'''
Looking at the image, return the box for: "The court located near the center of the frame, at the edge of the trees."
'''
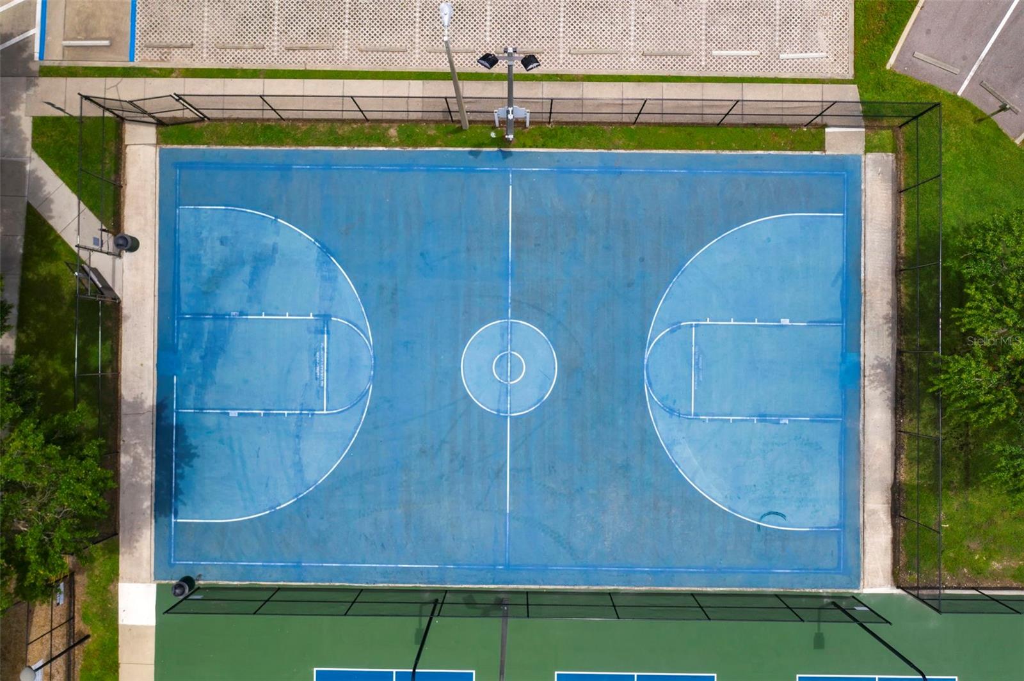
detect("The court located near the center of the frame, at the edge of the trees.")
[151,144,865,593]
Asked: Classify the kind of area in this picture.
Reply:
sports ground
